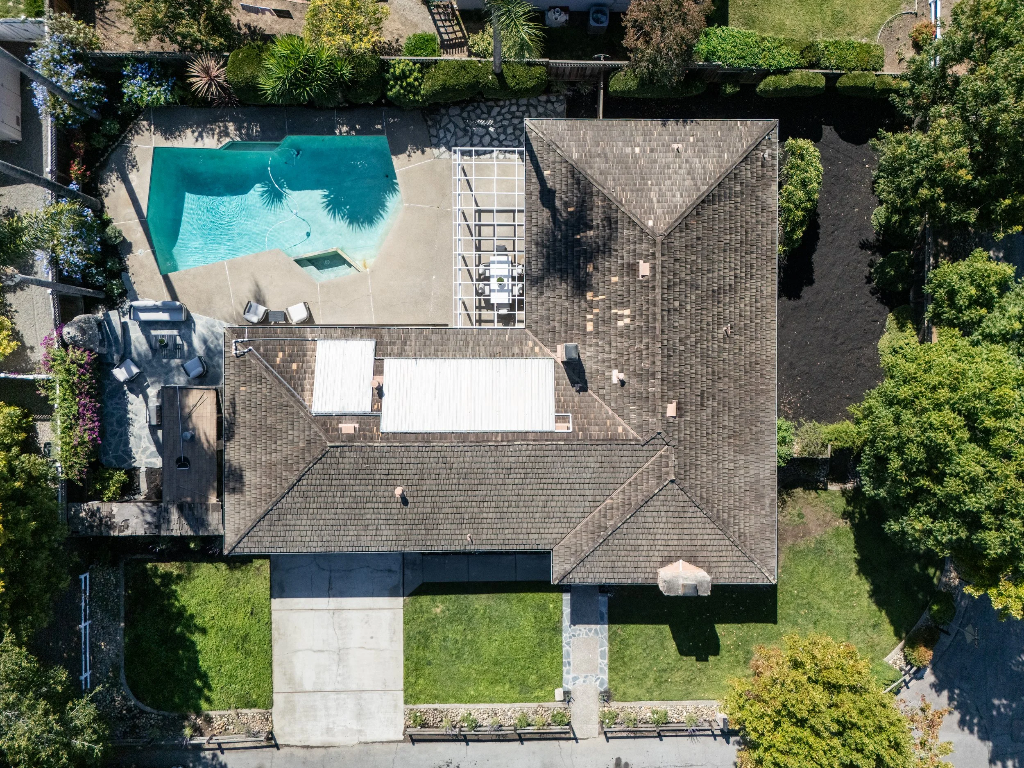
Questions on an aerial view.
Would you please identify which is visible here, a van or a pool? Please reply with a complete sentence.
Of the two, only a pool appears.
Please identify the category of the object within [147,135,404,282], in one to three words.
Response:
swimming pool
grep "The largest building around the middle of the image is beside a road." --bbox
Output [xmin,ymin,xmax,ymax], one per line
[220,115,781,596]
